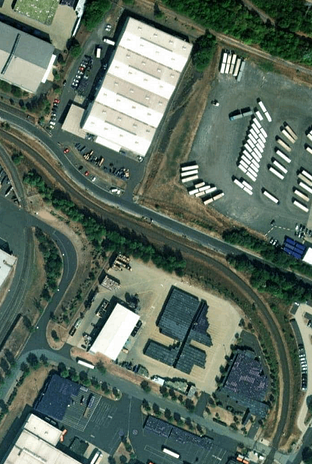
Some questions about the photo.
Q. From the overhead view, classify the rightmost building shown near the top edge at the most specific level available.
warehouse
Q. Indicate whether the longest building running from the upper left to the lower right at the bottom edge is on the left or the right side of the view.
left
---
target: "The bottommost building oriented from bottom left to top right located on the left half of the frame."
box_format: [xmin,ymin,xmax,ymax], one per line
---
[90,303,140,363]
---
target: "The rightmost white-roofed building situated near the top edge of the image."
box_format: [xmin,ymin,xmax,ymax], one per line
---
[83,18,193,161]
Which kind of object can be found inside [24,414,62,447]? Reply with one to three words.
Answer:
building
